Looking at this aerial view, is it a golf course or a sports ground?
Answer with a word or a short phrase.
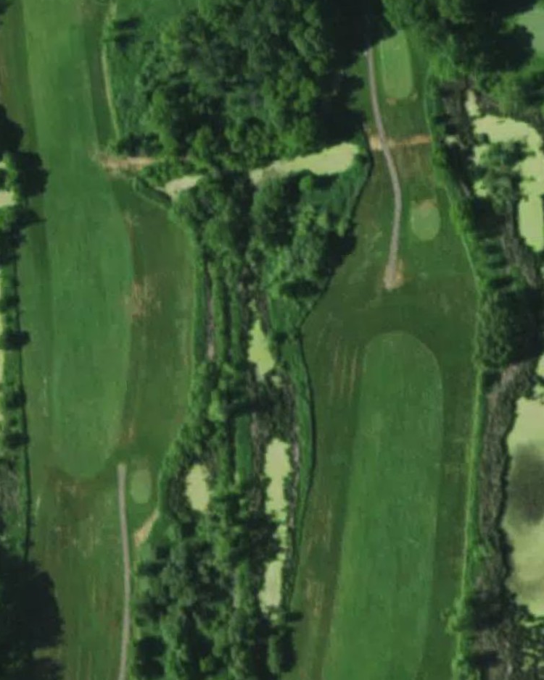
golf course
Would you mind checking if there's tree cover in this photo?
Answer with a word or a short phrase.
Yes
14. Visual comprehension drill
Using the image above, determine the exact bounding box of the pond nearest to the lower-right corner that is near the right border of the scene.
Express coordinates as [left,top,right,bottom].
[504,388,544,619]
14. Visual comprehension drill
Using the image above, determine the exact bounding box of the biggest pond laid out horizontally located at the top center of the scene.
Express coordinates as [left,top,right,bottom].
[246,143,358,187]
